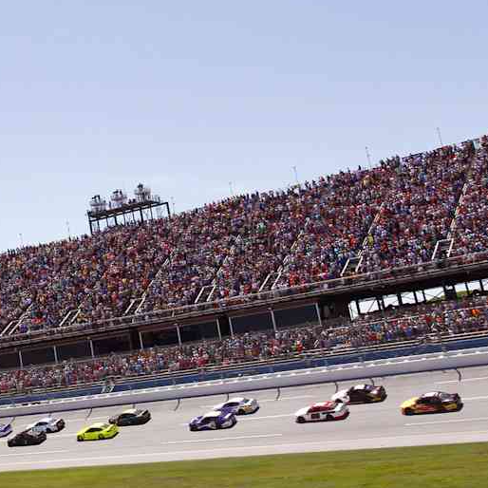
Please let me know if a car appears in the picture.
Yes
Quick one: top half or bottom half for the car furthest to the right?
bottom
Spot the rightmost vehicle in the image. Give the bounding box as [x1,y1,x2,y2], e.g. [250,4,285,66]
[402,392,461,415]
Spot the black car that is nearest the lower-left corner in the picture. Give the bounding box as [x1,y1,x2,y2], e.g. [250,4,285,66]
[9,430,47,447]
